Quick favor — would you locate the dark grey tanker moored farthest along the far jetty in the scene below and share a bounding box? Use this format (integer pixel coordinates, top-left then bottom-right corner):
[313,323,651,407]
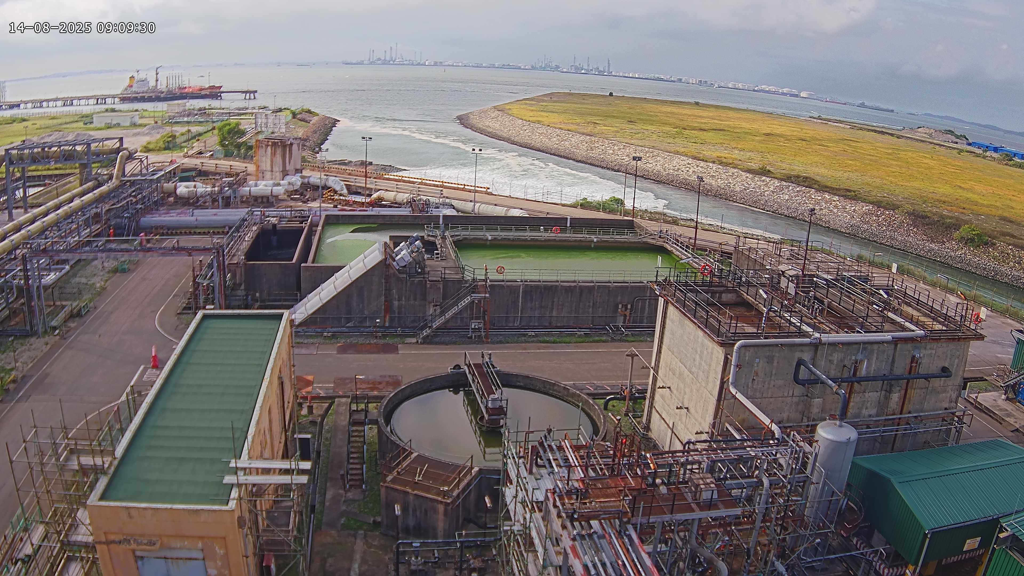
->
[853,97,894,114]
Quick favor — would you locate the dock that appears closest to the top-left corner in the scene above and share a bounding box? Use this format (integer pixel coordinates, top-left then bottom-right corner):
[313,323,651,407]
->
[0,85,258,108]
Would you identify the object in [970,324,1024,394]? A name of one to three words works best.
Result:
building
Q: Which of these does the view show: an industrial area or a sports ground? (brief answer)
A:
industrial area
